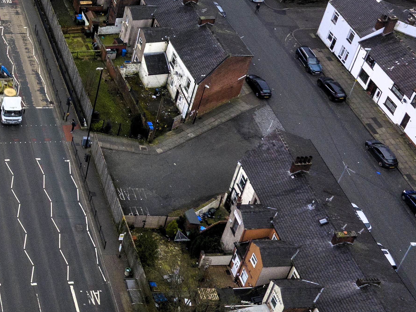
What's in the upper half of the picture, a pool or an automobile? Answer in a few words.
automobile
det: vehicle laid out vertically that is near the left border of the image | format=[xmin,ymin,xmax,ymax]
[0,56,23,124]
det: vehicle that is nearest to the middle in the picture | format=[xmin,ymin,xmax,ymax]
[248,74,276,103]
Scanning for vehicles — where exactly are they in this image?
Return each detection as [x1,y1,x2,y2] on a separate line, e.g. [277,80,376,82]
[374,239,406,274]
[399,190,416,215]
[363,143,405,176]
[350,203,379,235]
[213,0,231,20]
[316,77,350,106]
[248,74,276,103]
[0,56,23,124]
[294,47,324,74]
